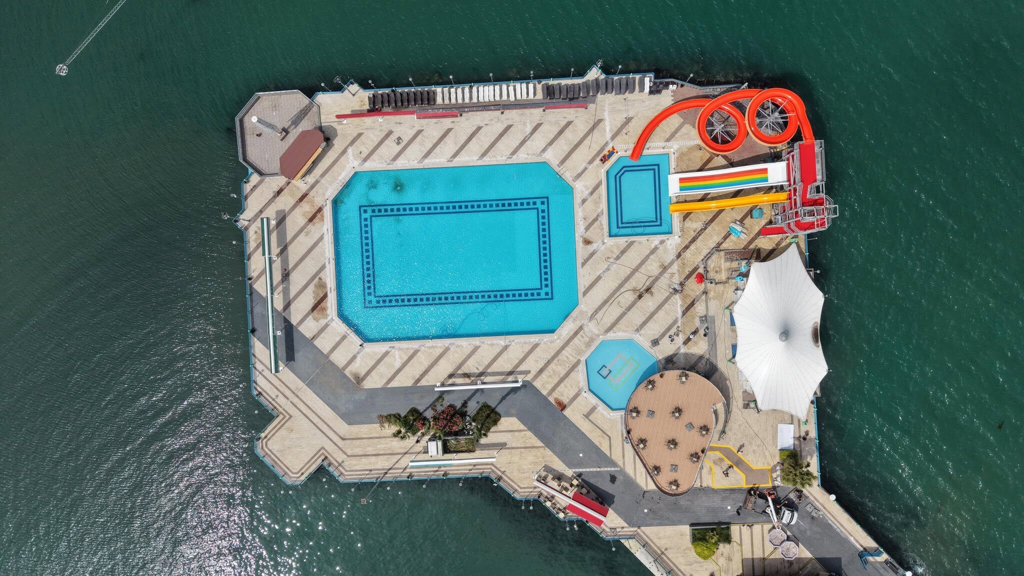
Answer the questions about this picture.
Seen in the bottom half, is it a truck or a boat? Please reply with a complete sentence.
You can see a truck in the bottom half.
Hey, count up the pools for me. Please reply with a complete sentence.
The count of pools comes to 3.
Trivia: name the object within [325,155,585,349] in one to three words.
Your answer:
swimming pool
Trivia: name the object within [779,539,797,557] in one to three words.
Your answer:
umbrella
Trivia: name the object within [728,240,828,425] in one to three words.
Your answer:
tent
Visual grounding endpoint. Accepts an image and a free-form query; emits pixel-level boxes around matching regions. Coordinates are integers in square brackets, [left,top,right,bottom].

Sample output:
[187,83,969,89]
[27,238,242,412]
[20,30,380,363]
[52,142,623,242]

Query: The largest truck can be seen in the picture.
[746,486,804,533]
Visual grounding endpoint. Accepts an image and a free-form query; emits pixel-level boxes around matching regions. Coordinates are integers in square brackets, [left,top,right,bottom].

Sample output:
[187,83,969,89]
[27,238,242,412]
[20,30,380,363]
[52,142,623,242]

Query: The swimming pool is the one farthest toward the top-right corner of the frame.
[601,148,677,242]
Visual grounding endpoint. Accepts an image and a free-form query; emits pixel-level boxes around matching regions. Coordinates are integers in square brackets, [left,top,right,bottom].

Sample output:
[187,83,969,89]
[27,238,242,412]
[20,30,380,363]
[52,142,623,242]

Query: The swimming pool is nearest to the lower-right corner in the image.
[579,332,664,417]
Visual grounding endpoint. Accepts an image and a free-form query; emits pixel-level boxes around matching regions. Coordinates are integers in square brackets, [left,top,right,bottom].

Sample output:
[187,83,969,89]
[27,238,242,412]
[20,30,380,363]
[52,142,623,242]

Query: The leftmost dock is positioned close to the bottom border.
[622,541,668,576]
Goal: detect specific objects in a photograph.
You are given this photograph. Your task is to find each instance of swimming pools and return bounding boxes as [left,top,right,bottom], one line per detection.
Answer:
[579,332,664,417]
[601,148,677,242]
[325,155,585,349]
